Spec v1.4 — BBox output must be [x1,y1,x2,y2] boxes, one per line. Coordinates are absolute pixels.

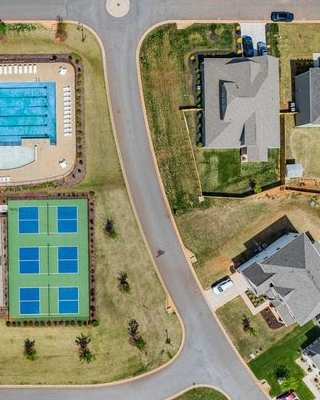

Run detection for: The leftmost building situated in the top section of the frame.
[200,53,279,163]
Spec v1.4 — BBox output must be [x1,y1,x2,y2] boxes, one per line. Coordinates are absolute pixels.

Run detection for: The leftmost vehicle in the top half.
[242,35,254,55]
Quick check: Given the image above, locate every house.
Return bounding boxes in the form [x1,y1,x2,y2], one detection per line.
[236,234,320,333]
[304,342,320,384]
[297,55,320,126]
[200,53,279,163]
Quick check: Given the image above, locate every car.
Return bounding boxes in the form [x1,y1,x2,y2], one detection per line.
[269,11,293,22]
[242,35,254,55]
[275,391,297,400]
[255,43,267,55]
[211,278,234,295]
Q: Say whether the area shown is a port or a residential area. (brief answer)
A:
residential area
